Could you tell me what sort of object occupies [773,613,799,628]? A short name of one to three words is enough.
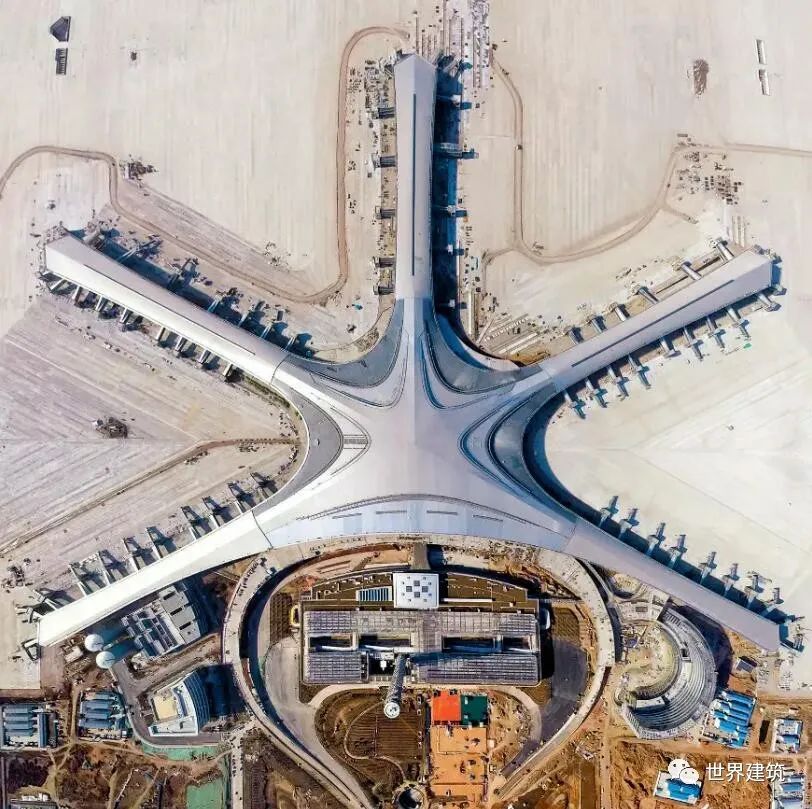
jet bridge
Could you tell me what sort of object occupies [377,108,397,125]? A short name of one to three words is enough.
jet bridge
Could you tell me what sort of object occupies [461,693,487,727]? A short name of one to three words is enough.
shed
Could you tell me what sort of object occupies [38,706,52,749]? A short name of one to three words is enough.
building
